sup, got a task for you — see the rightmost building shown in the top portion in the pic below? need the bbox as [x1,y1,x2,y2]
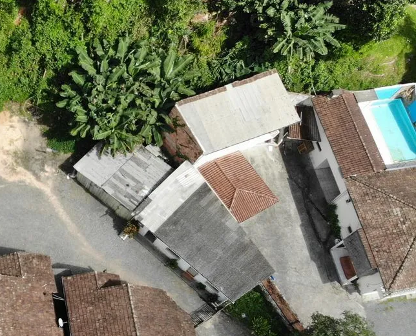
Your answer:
[312,90,386,178]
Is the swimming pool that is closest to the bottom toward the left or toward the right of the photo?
right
